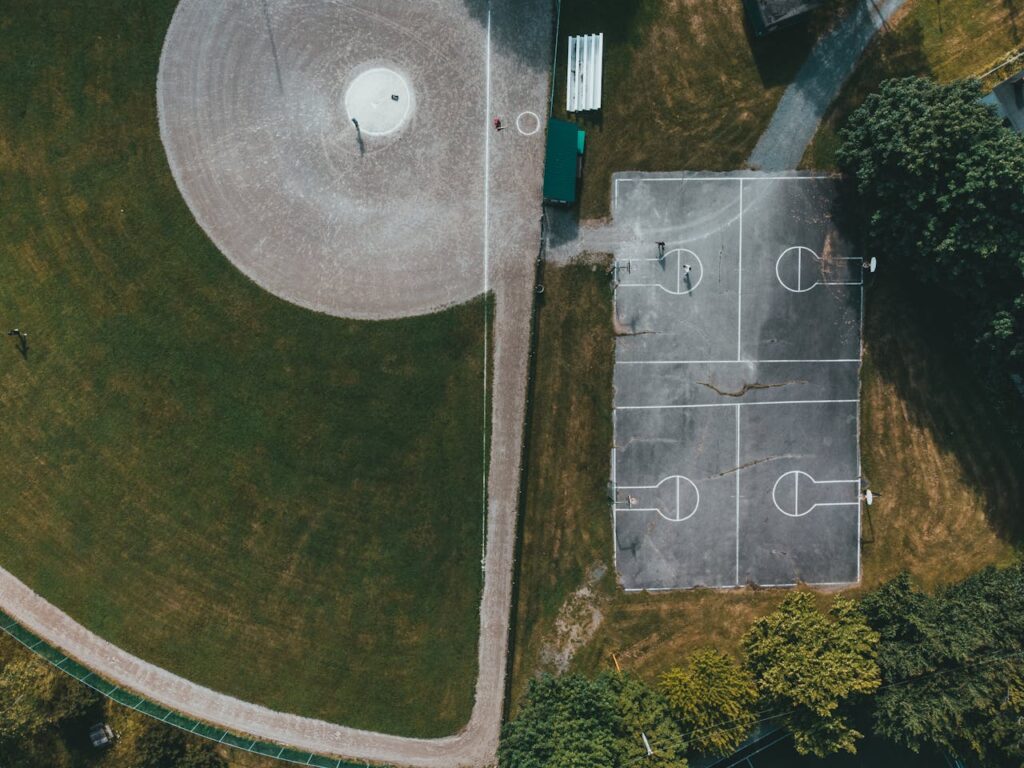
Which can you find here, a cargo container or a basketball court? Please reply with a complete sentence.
Of the two, only a basketball court appears.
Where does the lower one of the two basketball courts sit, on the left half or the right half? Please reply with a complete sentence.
The lower one of the two basketball courts sits on the right side.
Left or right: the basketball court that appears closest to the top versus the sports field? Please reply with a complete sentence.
The sports field has the basketball court that appears closest to the top on its right side.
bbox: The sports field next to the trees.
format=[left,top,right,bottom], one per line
[0,0,540,741]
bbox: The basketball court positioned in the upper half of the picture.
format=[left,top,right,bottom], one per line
[614,176,863,363]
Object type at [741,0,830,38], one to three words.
shed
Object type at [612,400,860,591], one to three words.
basketball court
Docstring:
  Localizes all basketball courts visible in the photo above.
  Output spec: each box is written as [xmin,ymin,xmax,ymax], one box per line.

[612,400,860,591]
[614,176,863,363]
